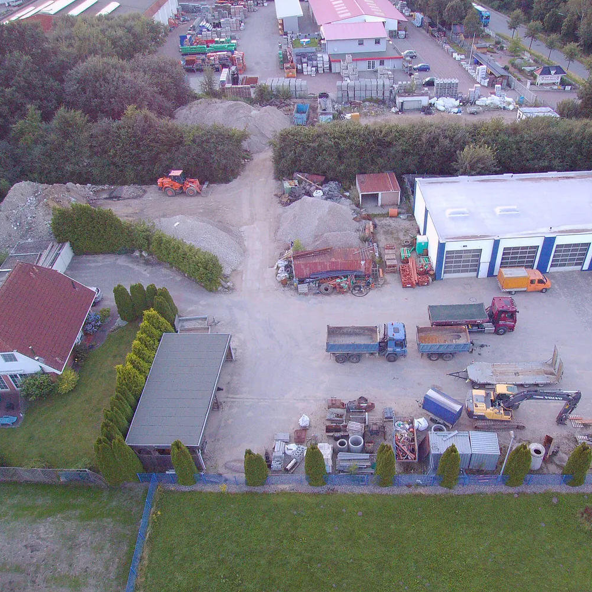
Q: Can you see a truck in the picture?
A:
Yes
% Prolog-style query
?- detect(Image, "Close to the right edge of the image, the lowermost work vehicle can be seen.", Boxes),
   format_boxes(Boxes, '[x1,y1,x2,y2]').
[464,382,578,431]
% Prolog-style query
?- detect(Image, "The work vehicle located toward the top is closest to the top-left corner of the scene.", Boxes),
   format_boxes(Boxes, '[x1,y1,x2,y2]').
[158,168,211,197]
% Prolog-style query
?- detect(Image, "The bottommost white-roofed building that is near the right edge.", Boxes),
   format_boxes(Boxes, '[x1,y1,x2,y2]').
[414,170,592,279]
